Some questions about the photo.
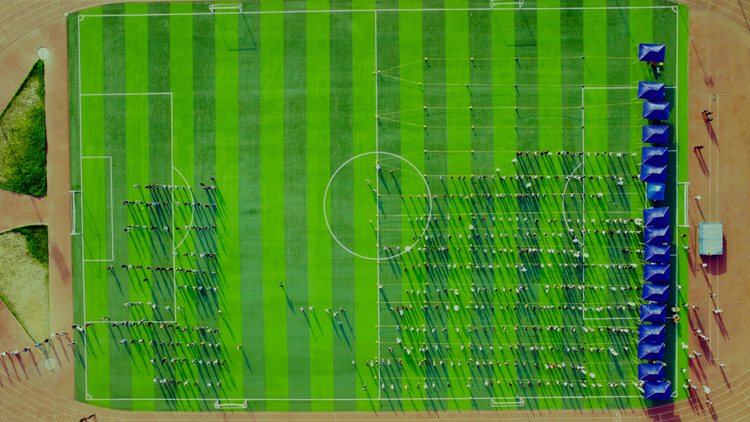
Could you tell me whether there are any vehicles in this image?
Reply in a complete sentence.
No, I can't see a single vehicle in this photo.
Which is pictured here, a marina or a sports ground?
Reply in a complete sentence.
What you see here is a sports ground.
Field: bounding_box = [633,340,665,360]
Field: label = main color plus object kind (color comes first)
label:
blue tent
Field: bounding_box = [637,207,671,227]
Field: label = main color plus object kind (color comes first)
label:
blue tent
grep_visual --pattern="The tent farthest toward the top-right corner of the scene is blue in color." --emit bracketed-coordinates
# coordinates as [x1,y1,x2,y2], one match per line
[633,43,666,64]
